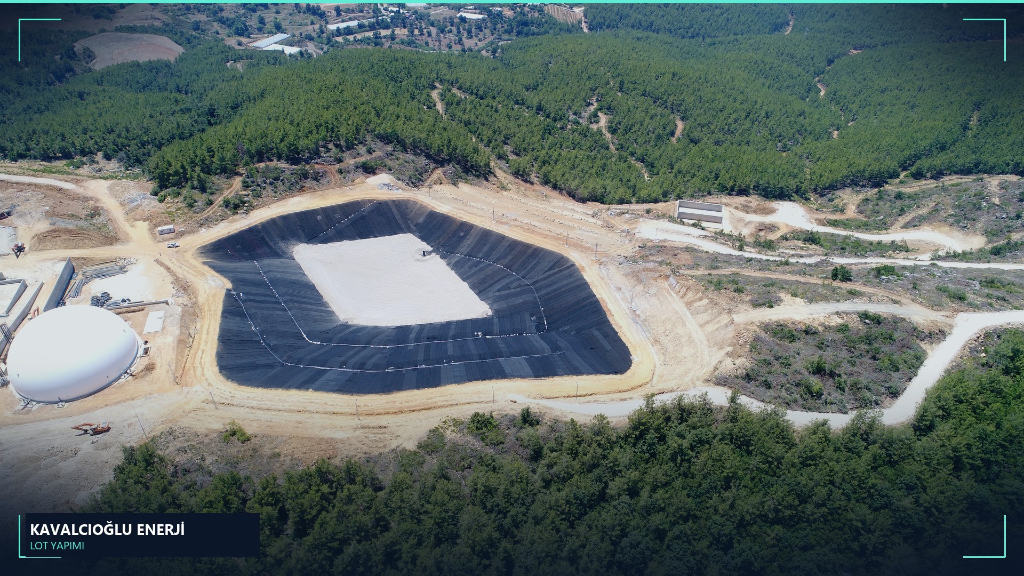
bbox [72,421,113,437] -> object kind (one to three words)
work vehicle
